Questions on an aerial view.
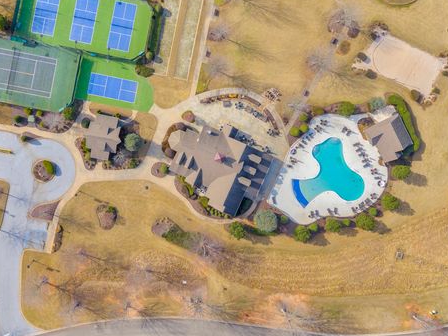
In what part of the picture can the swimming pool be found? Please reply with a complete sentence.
The swimming pool is located in the right region of the scene.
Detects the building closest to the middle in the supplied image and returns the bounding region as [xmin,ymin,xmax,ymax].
[166,121,282,216]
